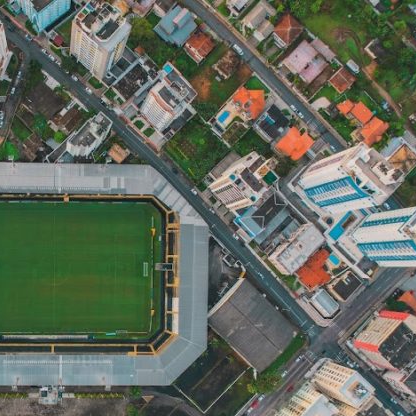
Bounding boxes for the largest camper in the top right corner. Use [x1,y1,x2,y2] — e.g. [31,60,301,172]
[346,57,363,73]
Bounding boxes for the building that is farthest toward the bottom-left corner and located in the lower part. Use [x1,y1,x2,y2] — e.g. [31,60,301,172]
[40,386,62,404]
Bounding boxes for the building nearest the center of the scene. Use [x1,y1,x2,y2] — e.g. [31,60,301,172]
[203,191,239,231]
